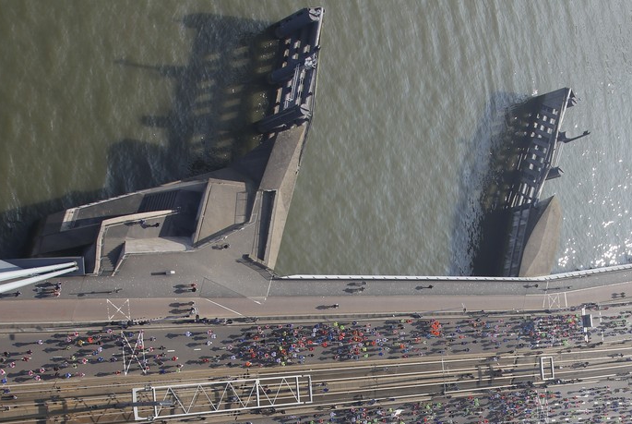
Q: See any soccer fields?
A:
No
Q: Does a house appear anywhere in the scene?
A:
No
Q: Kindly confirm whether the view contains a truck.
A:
No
